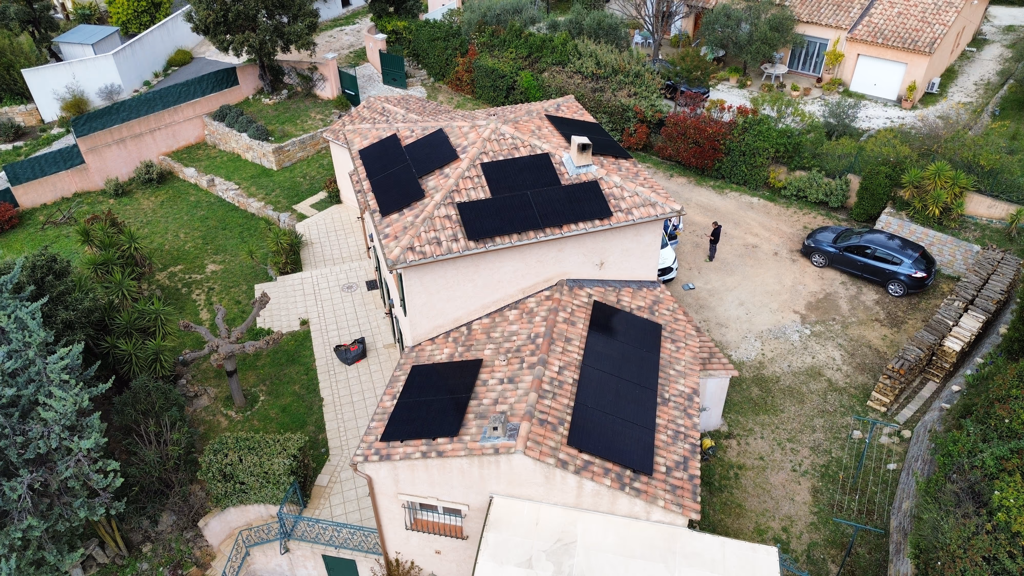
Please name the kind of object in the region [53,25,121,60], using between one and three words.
shed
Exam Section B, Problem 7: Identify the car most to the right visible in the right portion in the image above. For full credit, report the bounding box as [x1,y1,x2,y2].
[801,225,944,298]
